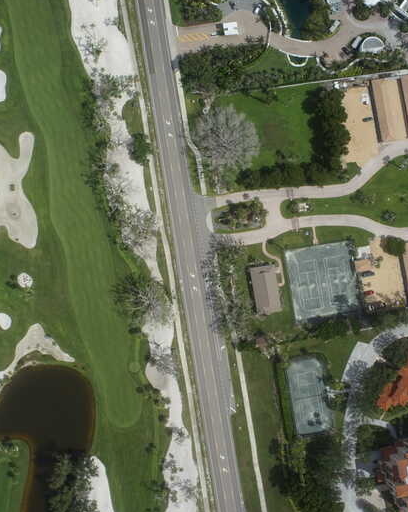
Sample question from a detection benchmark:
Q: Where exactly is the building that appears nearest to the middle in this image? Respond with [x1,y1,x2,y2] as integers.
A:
[250,264,287,315]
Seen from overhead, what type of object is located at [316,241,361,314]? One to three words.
tennis court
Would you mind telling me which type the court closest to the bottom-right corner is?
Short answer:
tennis court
